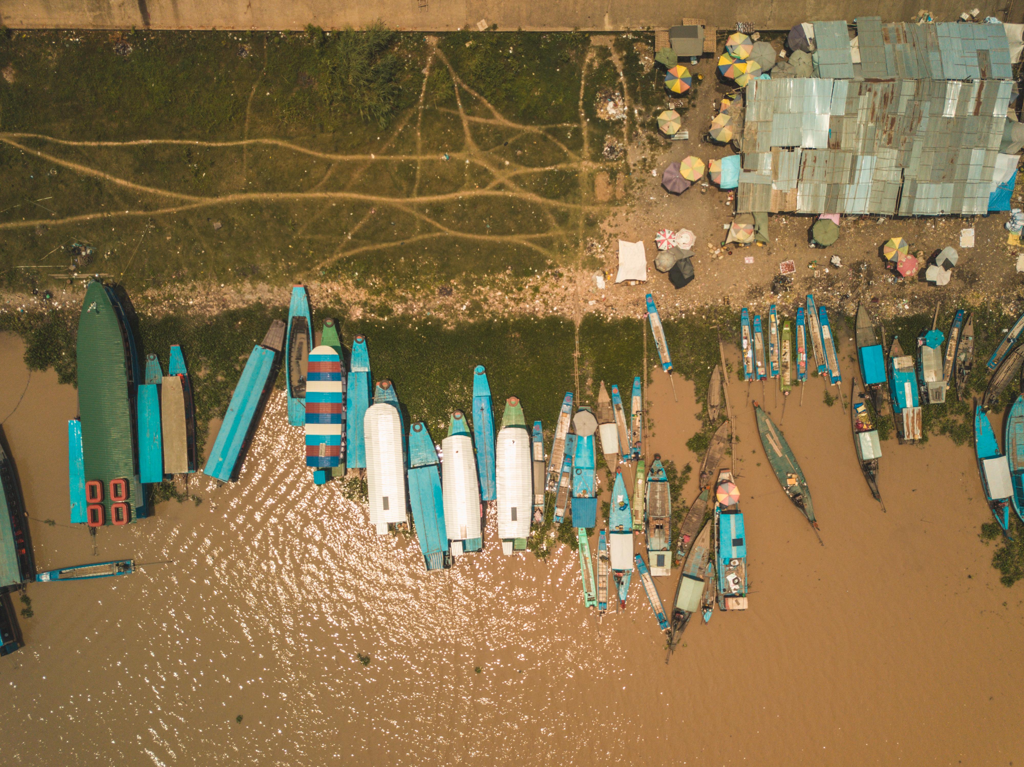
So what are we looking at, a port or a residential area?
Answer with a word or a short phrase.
port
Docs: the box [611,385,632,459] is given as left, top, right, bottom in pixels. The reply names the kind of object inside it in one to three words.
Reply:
boat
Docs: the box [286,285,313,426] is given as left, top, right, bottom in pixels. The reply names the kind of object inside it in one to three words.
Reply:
ship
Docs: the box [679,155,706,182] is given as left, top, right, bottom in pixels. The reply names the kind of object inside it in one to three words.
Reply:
umbrella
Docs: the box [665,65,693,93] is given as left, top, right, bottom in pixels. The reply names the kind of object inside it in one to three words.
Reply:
umbrella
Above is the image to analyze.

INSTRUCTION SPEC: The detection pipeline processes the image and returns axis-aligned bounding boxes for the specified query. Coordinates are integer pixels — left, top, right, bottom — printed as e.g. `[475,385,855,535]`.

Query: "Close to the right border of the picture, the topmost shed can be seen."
[811,16,1012,86]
